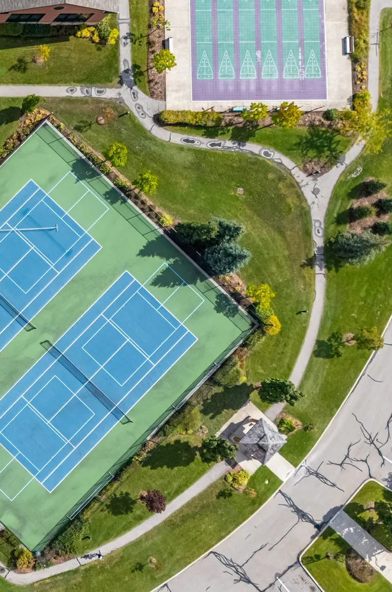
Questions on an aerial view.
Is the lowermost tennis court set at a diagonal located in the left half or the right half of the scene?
left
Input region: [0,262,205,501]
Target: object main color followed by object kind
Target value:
blue tennis court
